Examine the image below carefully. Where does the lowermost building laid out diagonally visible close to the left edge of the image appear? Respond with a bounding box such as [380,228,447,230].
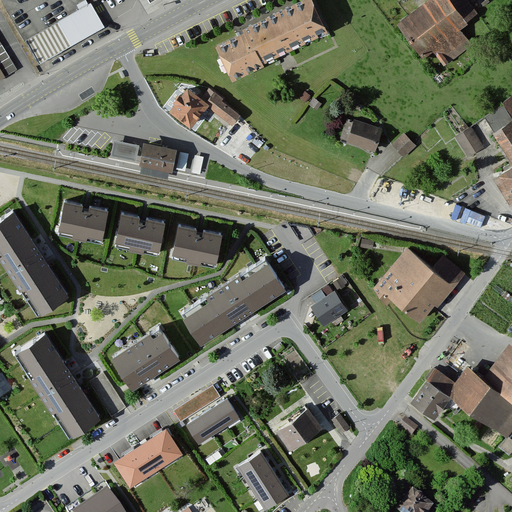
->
[12,331,101,442]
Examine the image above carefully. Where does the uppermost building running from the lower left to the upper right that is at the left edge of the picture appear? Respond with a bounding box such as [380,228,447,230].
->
[26,0,104,64]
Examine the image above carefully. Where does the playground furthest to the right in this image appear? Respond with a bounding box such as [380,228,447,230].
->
[78,292,152,349]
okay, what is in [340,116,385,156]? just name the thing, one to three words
house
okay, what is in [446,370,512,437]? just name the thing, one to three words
barn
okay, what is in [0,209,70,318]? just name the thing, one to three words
building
